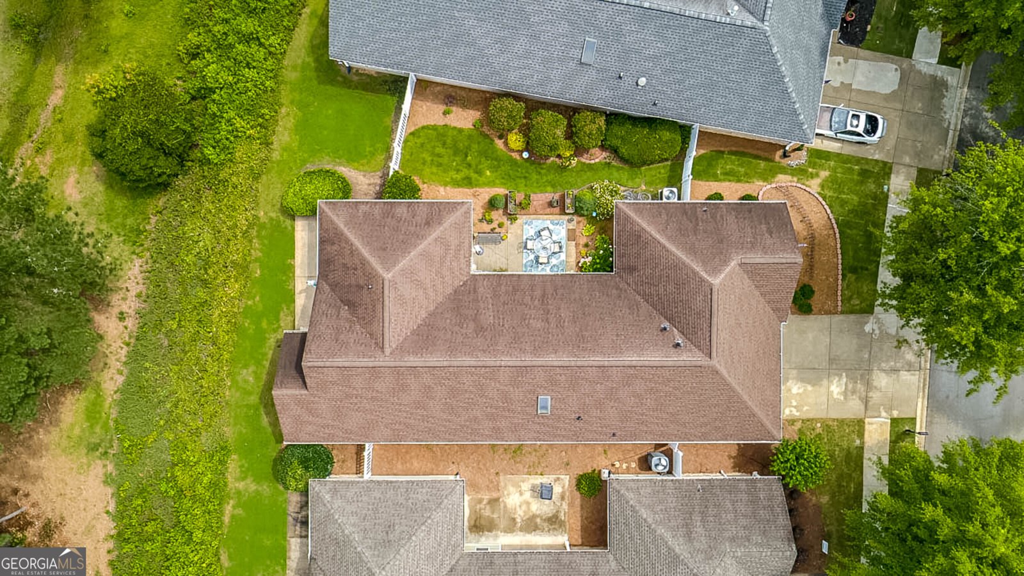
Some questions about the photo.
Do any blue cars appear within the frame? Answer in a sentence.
No, there appears to be no blue car in this shot.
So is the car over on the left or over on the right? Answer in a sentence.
The car is on the right side of the image.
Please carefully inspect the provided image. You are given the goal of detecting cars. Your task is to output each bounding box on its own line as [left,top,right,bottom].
[814,100,891,145]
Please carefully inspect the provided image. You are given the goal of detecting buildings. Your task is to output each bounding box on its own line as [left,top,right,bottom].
[308,469,795,576]
[319,0,845,155]
[272,199,802,445]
